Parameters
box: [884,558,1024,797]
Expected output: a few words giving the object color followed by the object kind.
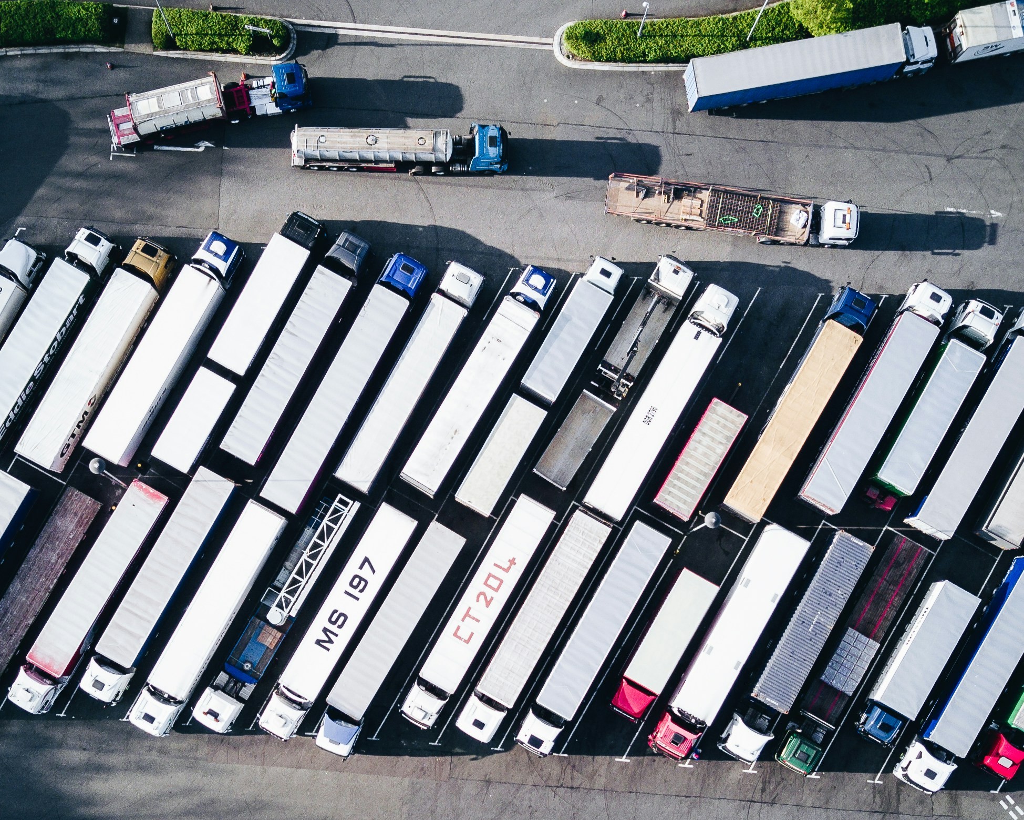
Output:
white truck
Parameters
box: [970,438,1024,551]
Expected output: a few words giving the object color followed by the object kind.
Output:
white truck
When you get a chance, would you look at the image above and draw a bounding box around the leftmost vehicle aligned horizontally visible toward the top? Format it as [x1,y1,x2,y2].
[109,61,315,151]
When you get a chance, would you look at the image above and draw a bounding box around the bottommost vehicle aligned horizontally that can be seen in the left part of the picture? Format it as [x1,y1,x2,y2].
[292,121,513,174]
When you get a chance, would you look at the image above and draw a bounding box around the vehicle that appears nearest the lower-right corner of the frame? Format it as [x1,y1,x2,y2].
[964,673,1024,788]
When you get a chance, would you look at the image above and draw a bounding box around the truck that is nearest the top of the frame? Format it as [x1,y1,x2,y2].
[944,1,1024,64]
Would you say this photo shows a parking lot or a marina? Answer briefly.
parking lot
